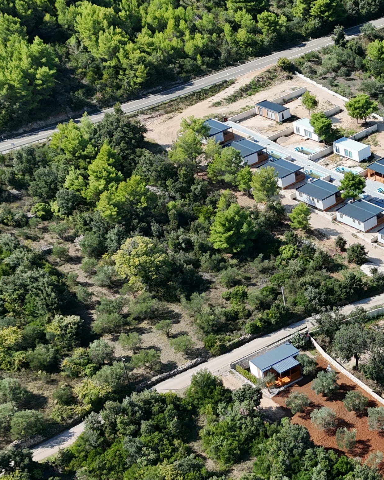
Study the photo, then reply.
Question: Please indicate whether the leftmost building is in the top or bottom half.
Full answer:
The leftmost building is in the top half of the image.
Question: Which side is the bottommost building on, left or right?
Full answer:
The bottommost building appears in the right half of the scene.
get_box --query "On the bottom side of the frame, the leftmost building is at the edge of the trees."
[249,341,302,386]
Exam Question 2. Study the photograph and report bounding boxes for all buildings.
[337,199,384,233]
[255,99,290,123]
[196,119,233,145]
[232,139,267,164]
[367,157,384,183]
[249,341,302,386]
[258,159,304,189]
[293,117,329,141]
[333,137,370,161]
[297,179,344,211]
